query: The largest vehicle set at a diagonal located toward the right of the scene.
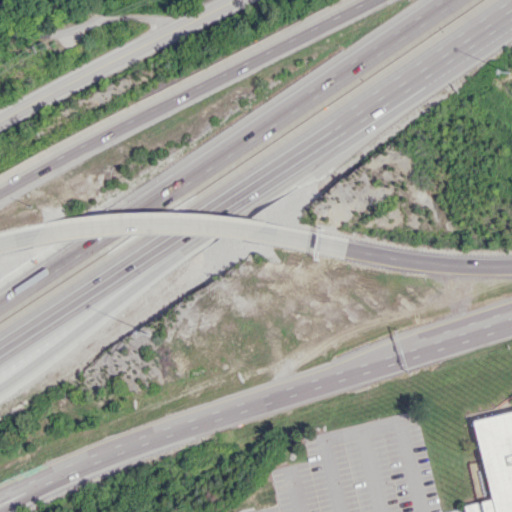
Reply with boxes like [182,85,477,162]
[370,106,388,120]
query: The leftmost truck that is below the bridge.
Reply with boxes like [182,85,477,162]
[8,270,49,299]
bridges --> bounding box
[0,212,349,260]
